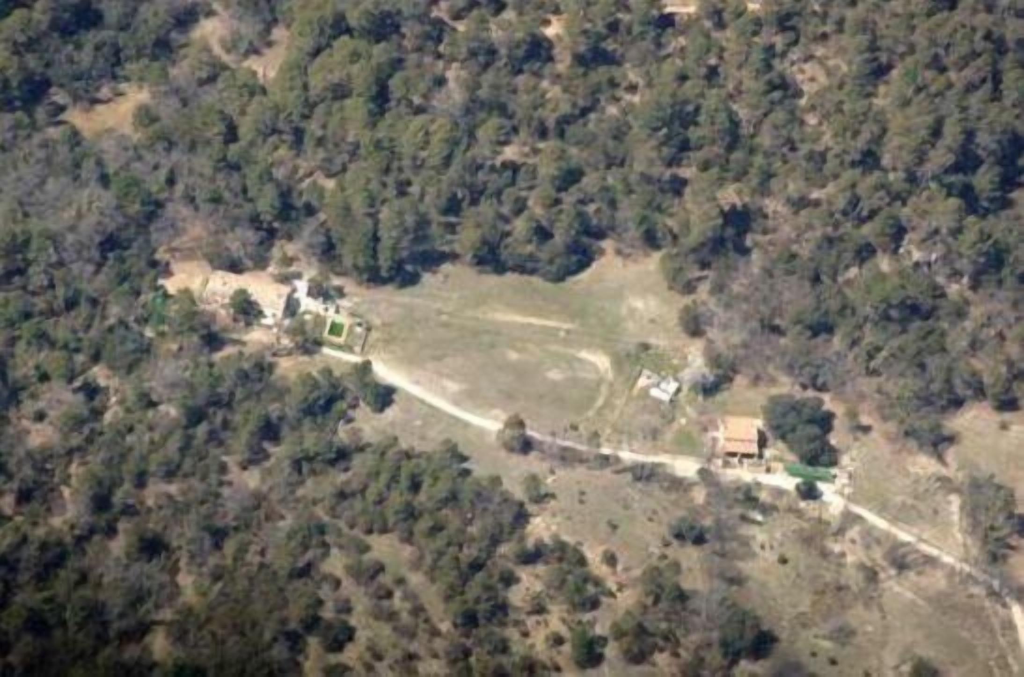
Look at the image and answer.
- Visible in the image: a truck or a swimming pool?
swimming pool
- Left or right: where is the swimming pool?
left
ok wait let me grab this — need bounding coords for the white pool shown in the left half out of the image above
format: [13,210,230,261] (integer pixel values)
[324,314,351,345]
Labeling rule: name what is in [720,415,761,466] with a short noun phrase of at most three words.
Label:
house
